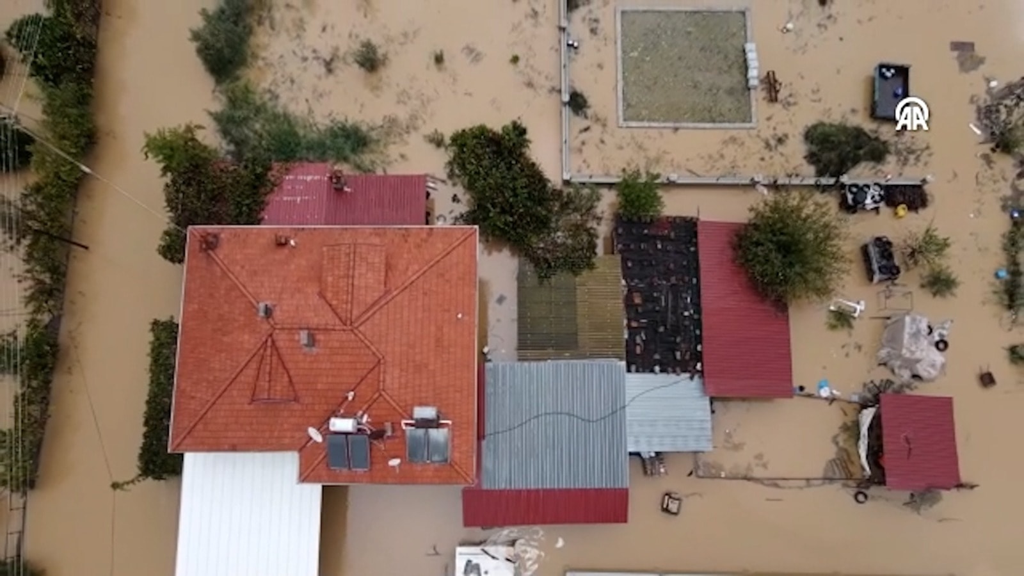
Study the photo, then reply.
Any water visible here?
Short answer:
Yes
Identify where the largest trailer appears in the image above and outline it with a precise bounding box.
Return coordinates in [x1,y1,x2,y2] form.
[867,63,914,126]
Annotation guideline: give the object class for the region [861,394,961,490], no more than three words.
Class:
shed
